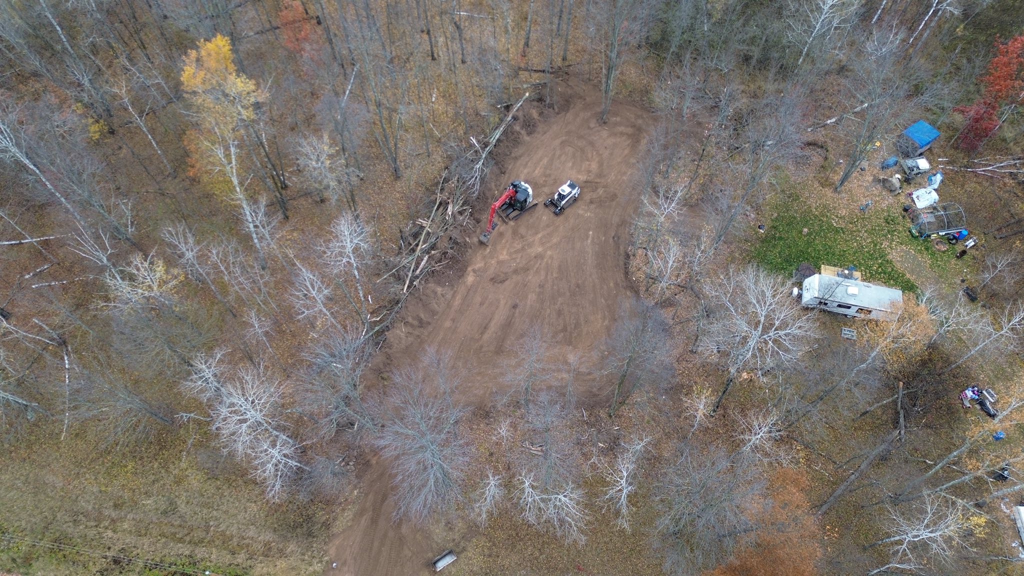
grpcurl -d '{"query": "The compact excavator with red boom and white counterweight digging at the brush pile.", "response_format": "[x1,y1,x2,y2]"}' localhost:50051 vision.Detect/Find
[478,182,536,246]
